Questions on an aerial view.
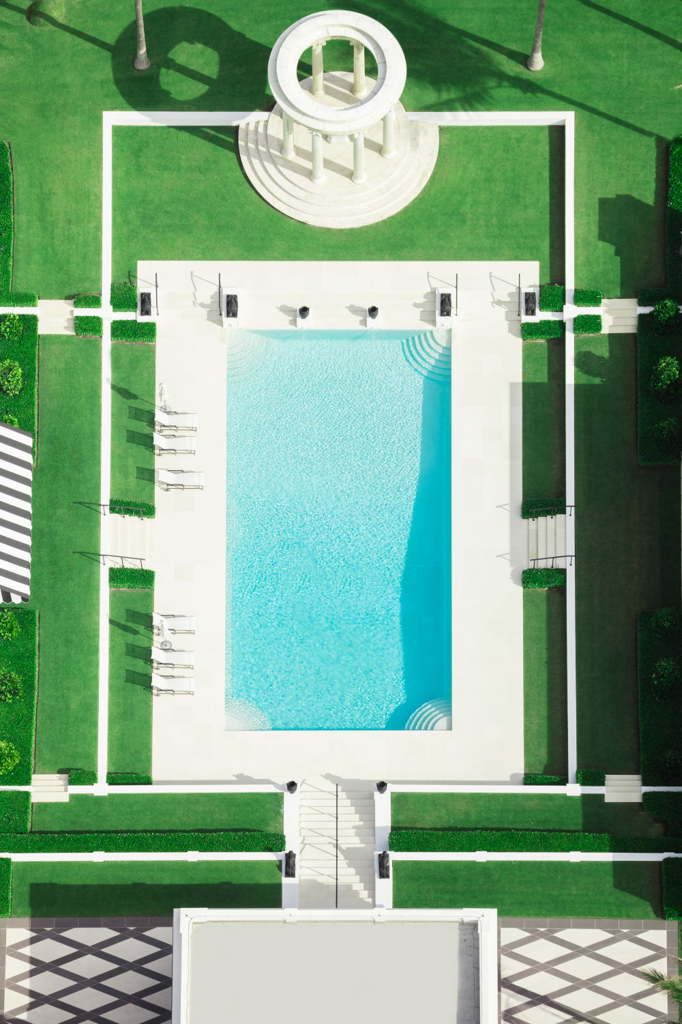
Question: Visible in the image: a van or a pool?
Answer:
pool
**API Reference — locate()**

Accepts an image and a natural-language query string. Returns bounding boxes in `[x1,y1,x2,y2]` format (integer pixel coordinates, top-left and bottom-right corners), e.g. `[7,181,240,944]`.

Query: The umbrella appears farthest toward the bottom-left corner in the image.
[160,621,172,650]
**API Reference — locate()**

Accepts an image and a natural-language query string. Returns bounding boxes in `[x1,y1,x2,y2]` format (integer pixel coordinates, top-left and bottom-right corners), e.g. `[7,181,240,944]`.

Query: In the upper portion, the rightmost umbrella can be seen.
[159,384,172,414]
